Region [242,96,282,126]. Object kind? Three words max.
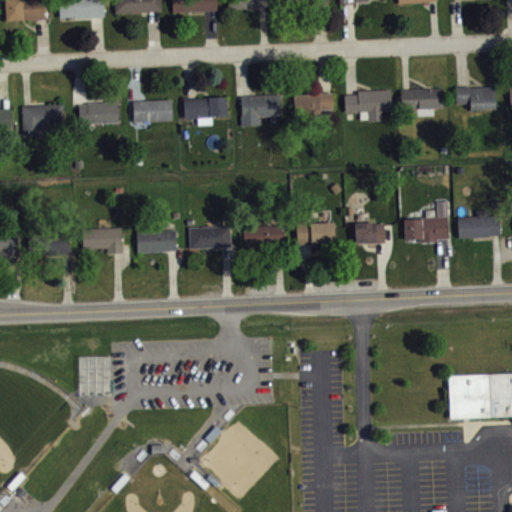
house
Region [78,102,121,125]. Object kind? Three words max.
house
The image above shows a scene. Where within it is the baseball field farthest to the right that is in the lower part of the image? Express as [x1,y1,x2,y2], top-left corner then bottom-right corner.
[200,404,290,512]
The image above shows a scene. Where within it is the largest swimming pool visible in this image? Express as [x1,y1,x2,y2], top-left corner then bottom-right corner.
[206,135,223,152]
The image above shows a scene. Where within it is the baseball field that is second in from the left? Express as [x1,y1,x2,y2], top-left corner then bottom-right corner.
[102,456,230,512]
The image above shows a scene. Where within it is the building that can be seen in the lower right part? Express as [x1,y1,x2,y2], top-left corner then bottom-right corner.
[448,375,512,422]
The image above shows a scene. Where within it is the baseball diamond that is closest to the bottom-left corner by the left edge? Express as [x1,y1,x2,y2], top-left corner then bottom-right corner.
[0,366,74,490]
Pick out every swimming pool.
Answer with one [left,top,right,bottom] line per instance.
[206,135,223,152]
[456,206,467,217]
